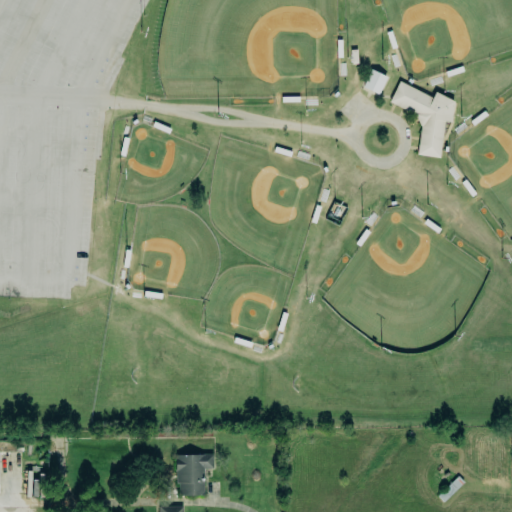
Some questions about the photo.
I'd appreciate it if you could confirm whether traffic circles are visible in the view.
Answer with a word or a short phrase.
Yes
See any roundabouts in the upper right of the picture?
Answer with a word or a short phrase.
Yes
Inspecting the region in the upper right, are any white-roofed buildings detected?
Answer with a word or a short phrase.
Yes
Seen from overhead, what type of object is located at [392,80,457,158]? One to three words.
building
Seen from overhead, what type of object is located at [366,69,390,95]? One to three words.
building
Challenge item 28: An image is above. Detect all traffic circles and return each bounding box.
[340,92,412,170]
